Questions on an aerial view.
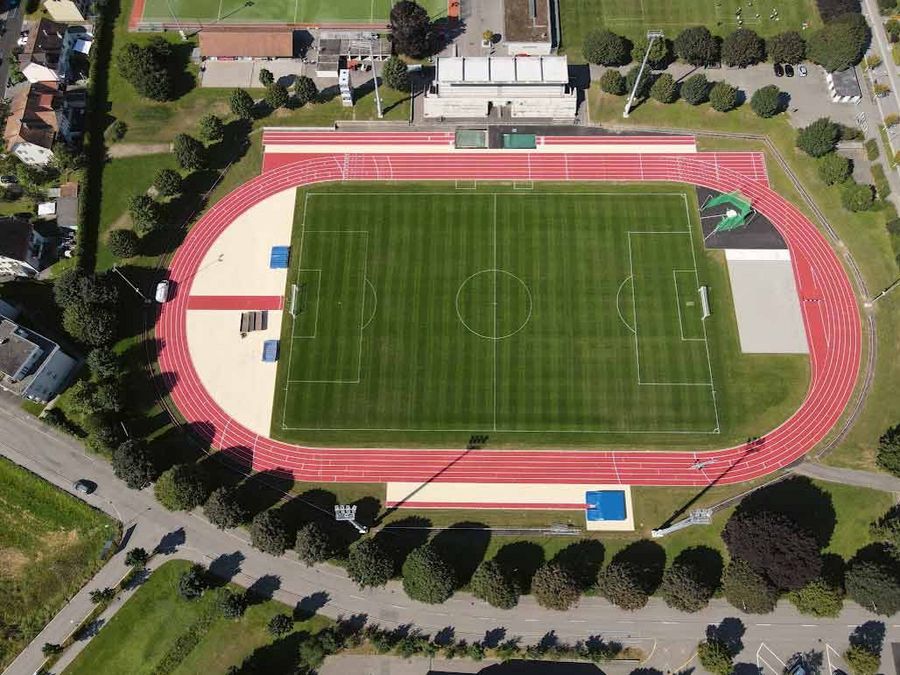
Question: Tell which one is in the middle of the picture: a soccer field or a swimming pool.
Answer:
soccer field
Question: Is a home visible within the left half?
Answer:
Yes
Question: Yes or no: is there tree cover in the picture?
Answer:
Yes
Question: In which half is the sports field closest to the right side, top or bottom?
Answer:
top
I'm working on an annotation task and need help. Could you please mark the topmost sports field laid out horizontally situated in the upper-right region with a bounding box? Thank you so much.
[561,0,817,62]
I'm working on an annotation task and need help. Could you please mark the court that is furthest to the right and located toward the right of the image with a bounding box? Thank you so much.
[724,250,807,353]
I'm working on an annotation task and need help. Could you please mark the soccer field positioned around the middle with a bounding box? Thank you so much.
[186,181,813,452]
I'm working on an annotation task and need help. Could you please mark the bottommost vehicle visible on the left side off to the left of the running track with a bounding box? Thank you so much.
[74,478,93,494]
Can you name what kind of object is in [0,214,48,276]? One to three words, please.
house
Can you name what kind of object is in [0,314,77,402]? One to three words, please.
building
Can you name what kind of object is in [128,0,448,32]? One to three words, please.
sports field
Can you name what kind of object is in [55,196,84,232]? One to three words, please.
building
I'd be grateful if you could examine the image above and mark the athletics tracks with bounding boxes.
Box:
[155,151,862,486]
